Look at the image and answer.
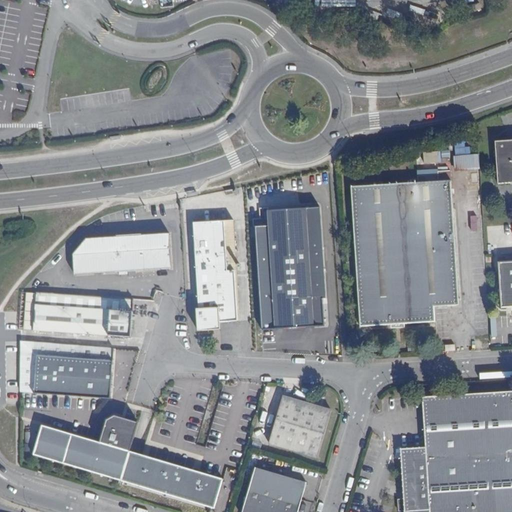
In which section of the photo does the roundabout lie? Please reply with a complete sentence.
Look in the top portion of the view to spot the roundabout.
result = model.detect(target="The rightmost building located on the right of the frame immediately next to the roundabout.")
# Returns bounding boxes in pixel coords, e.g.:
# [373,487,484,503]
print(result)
[350,180,458,326]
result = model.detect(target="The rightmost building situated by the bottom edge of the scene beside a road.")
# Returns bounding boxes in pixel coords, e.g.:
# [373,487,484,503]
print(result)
[422,391,512,512]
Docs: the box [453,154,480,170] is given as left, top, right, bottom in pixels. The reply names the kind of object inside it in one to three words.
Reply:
shed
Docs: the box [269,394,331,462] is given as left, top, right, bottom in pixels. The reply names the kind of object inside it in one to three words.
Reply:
building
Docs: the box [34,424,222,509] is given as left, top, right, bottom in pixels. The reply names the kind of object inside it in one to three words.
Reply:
building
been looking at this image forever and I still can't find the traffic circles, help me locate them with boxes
[238,50,352,165]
